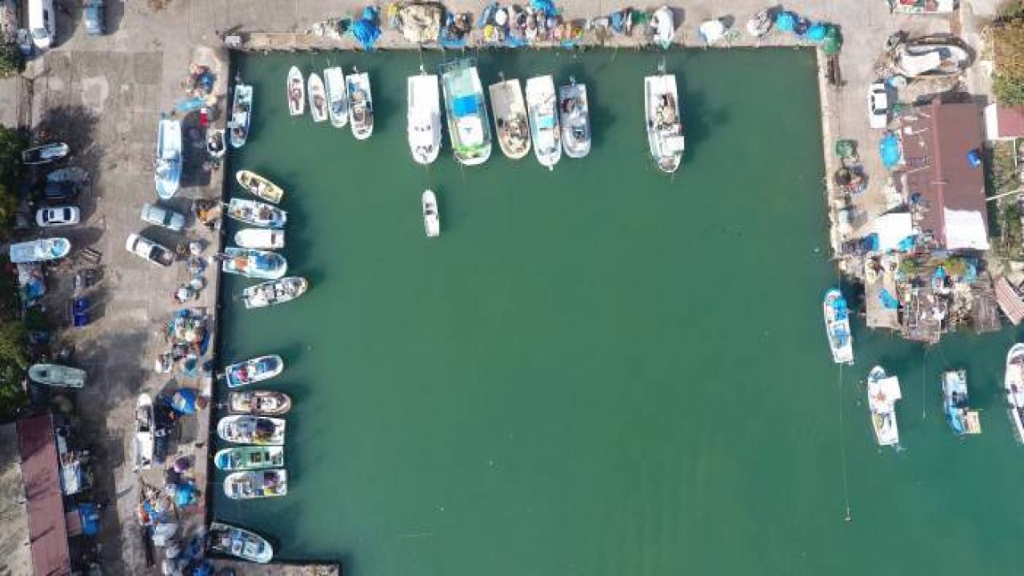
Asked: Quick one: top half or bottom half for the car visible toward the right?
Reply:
top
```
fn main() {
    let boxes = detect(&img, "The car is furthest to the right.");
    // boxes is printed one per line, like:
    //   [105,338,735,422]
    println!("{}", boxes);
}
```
[867,82,889,128]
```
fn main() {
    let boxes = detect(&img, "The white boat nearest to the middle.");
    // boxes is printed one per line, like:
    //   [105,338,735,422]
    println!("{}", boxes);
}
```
[424,189,439,240]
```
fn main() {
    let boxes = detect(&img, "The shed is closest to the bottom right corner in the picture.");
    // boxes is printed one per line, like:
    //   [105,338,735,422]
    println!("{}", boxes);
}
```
[992,275,1024,327]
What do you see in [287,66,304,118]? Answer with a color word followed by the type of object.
white boat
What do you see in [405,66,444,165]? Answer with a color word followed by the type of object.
white boat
